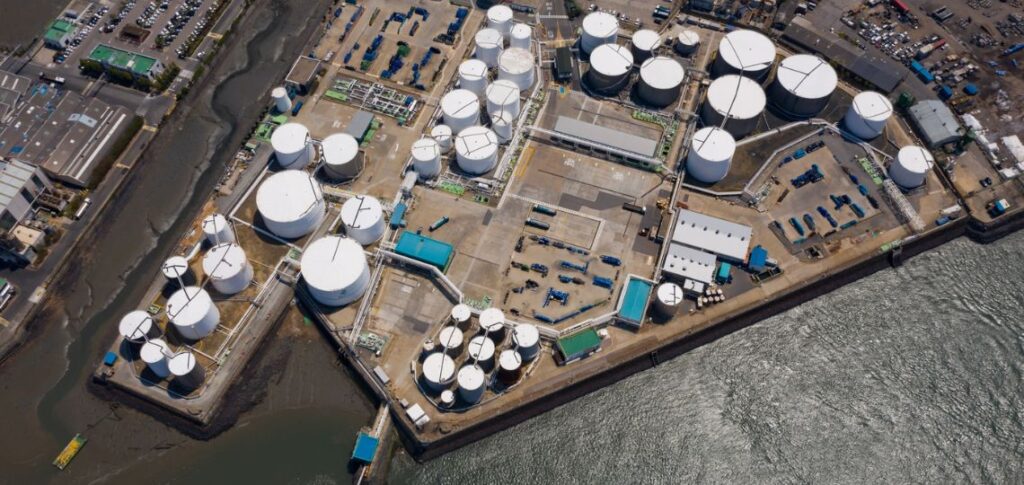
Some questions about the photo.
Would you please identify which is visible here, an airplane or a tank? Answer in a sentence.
This aerial view contains a tank.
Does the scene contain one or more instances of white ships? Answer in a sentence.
No, I find no white ship anywhere in the image.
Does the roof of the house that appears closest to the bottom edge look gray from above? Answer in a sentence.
No, the roof of the house that appears closest to the bottom edge is blue.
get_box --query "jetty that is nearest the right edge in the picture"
[351,400,388,485]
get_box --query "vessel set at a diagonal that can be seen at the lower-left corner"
[55,434,87,468]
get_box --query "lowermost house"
[352,432,380,465]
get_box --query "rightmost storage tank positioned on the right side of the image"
[890,145,934,188]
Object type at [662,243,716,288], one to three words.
building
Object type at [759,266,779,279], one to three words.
vehicle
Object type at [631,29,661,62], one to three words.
storage tank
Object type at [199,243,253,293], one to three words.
storage tank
